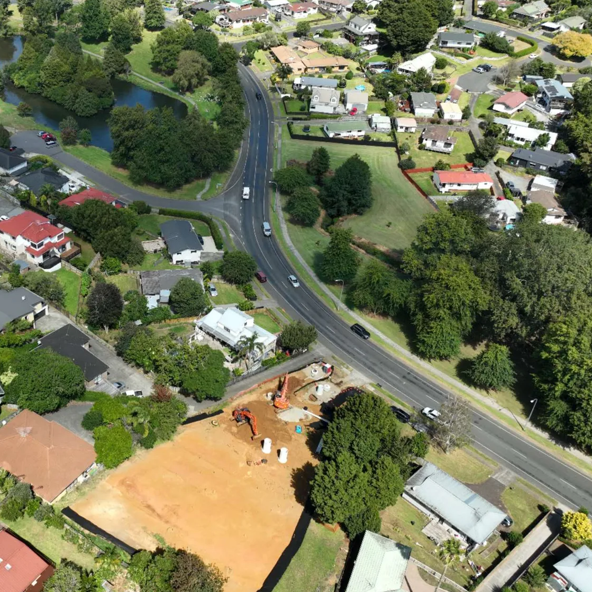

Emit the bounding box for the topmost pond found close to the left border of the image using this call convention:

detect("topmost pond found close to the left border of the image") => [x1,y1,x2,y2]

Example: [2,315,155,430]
[0,34,187,152]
